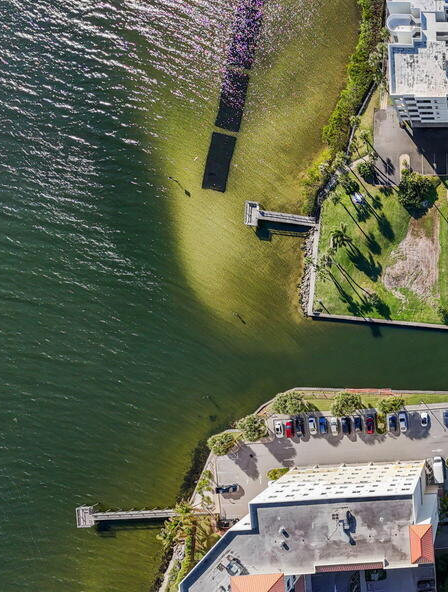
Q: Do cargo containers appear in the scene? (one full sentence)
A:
No, this view has no cargo container in it.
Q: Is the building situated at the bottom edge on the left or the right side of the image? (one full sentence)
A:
The building situated at the bottom edge is on the right side of the image.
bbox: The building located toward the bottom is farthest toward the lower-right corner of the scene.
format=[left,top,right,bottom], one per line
[179,459,445,592]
